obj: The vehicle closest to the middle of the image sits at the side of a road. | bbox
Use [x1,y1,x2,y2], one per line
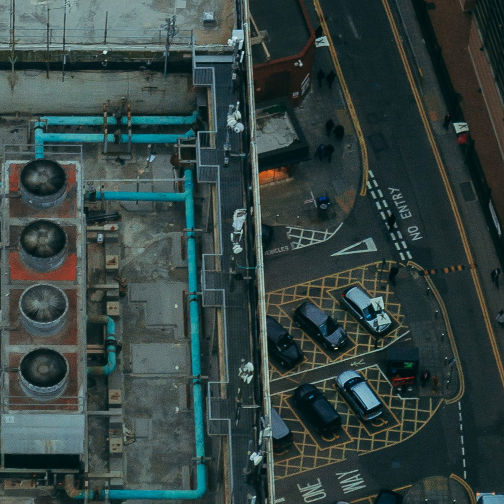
[262,219,286,249]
